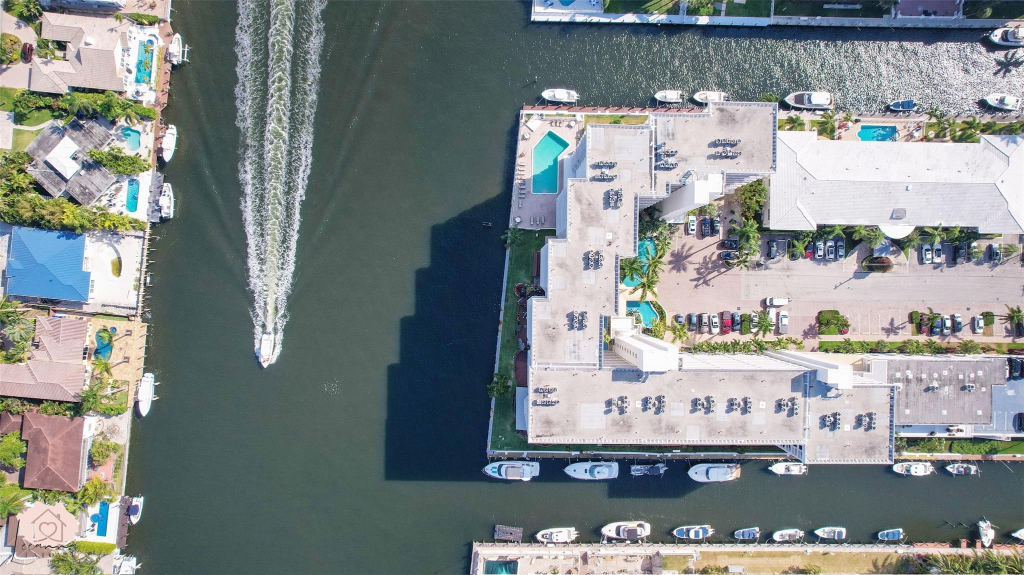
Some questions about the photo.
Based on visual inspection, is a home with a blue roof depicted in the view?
Yes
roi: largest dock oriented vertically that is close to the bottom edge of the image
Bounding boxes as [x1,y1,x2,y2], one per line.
[116,495,134,549]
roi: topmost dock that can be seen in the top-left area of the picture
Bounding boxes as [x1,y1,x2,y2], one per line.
[156,21,174,112]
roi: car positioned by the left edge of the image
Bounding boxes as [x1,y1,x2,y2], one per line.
[21,43,33,63]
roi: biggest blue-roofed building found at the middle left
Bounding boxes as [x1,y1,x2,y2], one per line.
[6,227,98,302]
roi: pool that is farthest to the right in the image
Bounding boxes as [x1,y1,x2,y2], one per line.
[855,123,902,141]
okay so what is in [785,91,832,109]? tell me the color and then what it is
white boat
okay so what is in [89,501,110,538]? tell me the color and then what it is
blue swimming pool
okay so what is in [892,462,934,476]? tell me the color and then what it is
white boat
